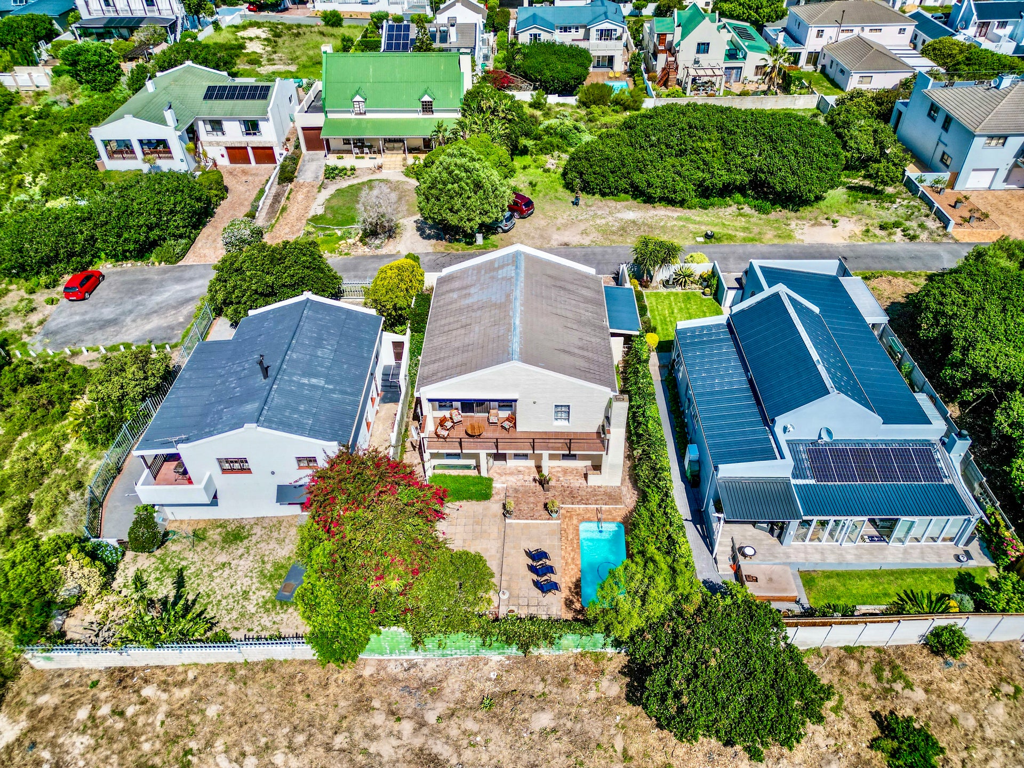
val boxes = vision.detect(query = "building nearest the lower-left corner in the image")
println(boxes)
[119,289,407,517]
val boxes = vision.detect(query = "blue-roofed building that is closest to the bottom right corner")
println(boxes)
[675,251,986,557]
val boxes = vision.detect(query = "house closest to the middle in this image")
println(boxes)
[411,239,645,483]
